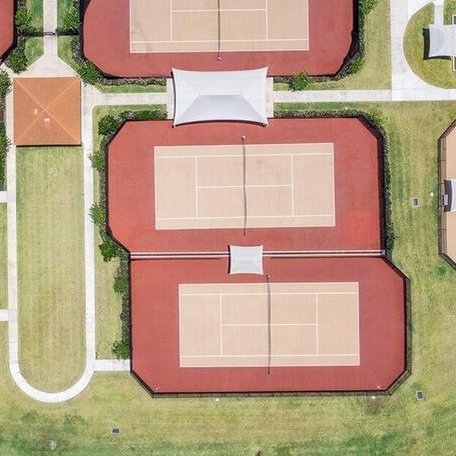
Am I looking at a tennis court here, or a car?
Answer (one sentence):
The one in the frame is a tennis court.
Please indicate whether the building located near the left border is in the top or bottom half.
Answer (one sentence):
Seen from above, the building located near the left border lies in the top half of the view.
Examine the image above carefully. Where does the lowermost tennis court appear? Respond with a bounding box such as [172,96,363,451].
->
[131,255,406,394]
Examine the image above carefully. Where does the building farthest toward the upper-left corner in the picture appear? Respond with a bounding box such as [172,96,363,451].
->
[13,77,81,146]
